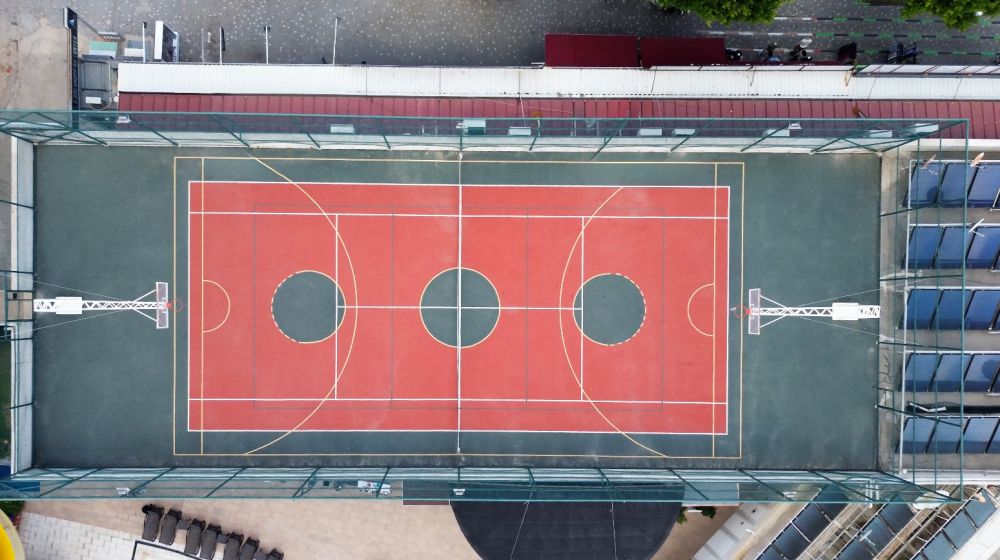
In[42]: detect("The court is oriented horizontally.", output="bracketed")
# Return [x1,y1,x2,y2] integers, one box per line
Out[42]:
[32,146,882,470]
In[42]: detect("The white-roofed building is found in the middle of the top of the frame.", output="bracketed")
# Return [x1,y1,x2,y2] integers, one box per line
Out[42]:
[32,32,1000,153]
